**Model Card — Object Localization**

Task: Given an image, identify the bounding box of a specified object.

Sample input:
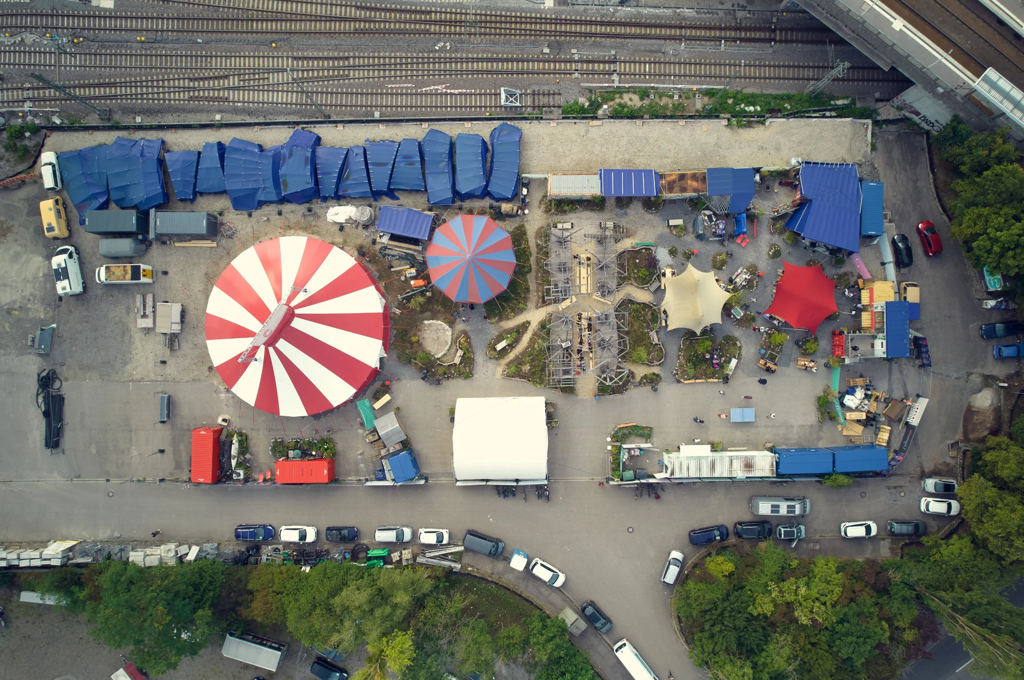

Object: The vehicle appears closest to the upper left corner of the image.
[42,153,68,195]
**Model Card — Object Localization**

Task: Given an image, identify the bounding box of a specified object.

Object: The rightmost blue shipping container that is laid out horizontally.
[824,446,887,472]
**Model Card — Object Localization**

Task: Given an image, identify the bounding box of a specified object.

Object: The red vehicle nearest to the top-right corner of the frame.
[915,221,943,258]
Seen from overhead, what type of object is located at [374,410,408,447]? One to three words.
shed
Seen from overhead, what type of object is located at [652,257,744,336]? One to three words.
tent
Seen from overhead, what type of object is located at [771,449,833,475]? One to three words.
shipping container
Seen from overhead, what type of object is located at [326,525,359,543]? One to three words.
car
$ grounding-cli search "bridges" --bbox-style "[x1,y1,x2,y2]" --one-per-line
[781,0,1024,176]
